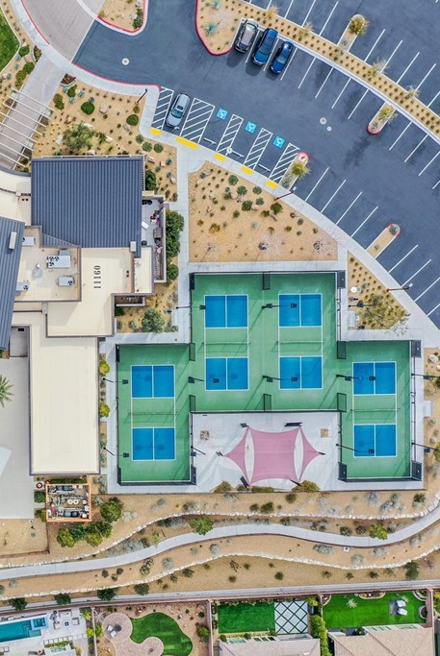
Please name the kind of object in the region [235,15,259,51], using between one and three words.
car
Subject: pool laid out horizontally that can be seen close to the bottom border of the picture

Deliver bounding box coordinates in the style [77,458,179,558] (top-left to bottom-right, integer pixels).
[0,616,50,644]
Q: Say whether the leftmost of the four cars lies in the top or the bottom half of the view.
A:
top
